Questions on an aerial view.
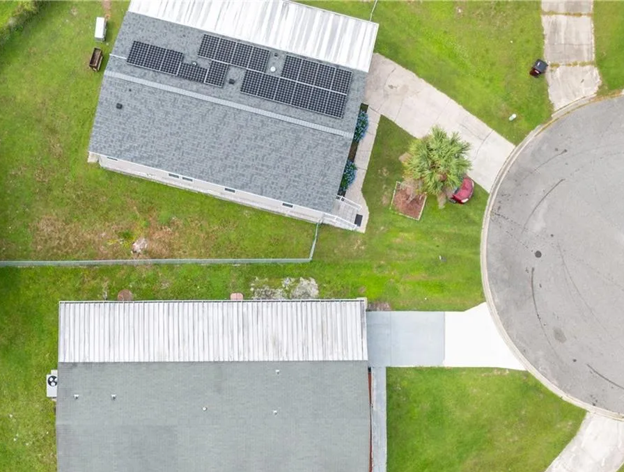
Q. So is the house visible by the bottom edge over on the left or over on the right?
left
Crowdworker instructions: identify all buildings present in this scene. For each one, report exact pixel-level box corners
[56,299,372,472]
[91,0,380,222]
